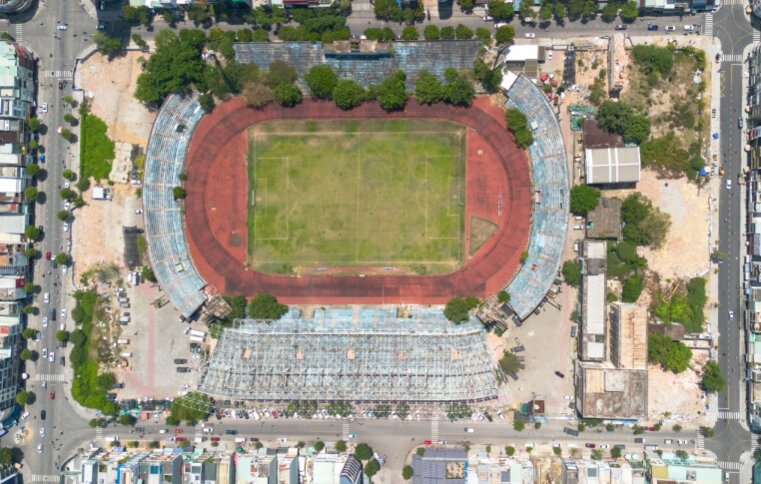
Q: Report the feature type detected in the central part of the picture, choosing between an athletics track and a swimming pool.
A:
athletics track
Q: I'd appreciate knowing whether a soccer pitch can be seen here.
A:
Yes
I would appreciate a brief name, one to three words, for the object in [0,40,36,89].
house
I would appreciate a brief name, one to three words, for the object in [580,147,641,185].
building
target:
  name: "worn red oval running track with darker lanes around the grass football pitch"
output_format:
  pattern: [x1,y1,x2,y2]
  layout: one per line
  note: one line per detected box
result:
[185,95,530,304]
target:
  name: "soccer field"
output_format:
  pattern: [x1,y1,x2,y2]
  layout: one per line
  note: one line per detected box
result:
[248,119,467,275]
